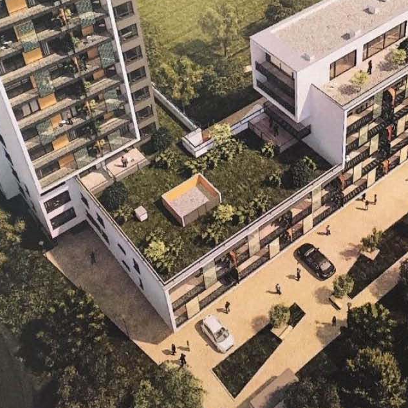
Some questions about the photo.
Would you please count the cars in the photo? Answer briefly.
2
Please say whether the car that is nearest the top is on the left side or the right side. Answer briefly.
right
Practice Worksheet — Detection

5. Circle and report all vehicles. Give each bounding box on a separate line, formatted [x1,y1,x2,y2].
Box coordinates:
[294,239,336,279]
[197,311,236,354]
